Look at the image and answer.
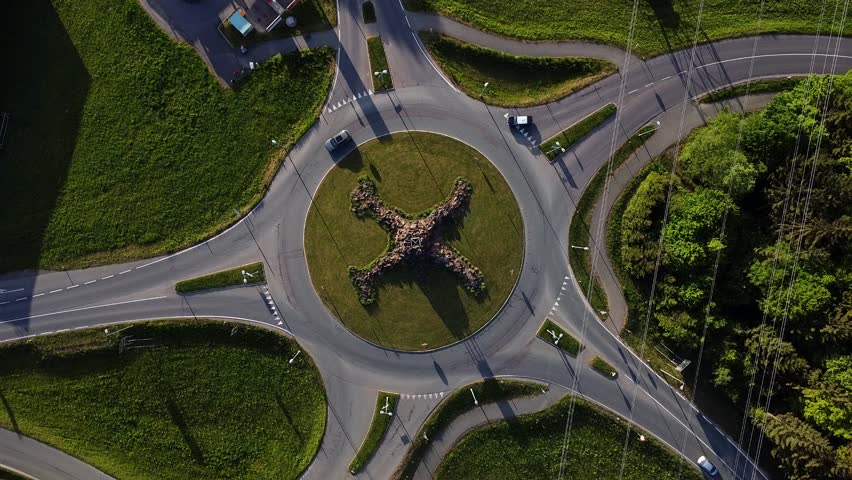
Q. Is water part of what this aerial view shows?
No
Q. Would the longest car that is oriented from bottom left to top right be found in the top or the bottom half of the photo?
top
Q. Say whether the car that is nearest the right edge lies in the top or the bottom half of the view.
bottom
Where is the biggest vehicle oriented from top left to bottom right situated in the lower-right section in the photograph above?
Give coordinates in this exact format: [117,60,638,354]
[695,453,719,479]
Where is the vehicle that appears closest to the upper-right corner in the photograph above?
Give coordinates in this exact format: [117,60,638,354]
[507,115,533,128]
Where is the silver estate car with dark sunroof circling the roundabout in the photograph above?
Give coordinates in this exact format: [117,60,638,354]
[324,128,353,153]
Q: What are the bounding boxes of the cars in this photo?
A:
[507,115,533,128]
[324,128,353,153]
[695,453,719,479]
